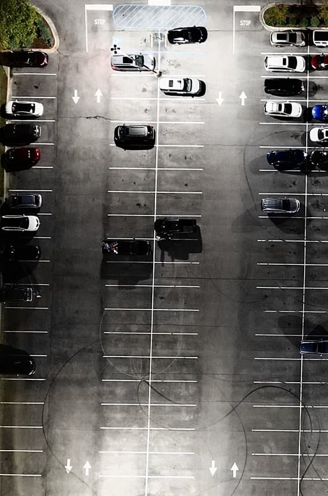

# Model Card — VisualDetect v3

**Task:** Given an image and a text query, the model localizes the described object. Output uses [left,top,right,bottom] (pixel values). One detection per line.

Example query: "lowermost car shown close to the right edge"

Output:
[300,337,328,355]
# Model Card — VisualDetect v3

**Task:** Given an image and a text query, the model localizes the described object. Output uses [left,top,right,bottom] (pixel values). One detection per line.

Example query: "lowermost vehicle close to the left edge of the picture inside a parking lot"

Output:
[0,354,39,373]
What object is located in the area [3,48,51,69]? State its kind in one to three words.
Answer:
car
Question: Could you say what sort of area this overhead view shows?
parking lot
